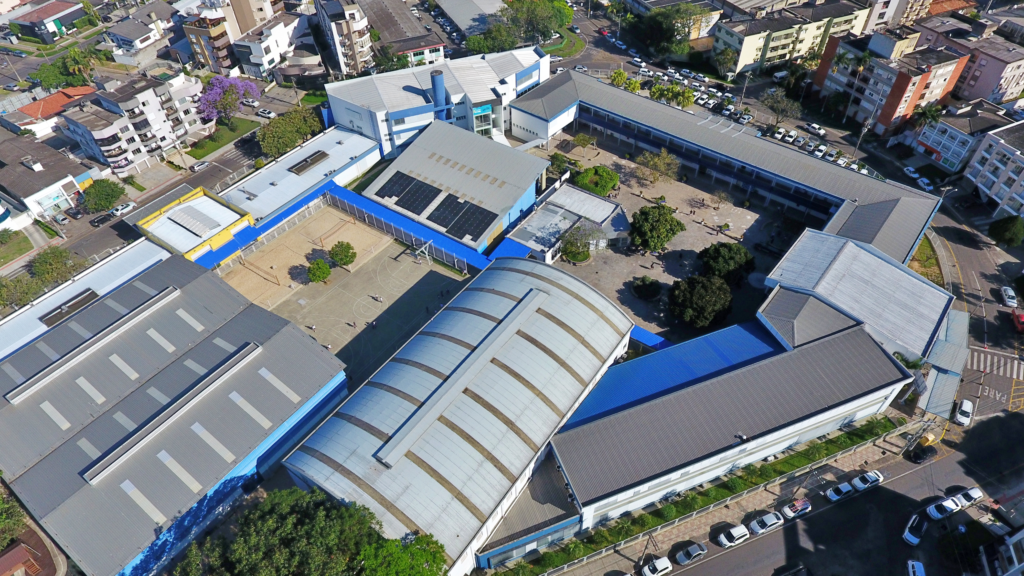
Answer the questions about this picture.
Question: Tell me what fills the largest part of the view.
buildings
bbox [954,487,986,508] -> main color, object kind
white car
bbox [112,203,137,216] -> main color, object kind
white vehicle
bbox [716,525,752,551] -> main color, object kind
white car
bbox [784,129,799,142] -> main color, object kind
white vehicle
